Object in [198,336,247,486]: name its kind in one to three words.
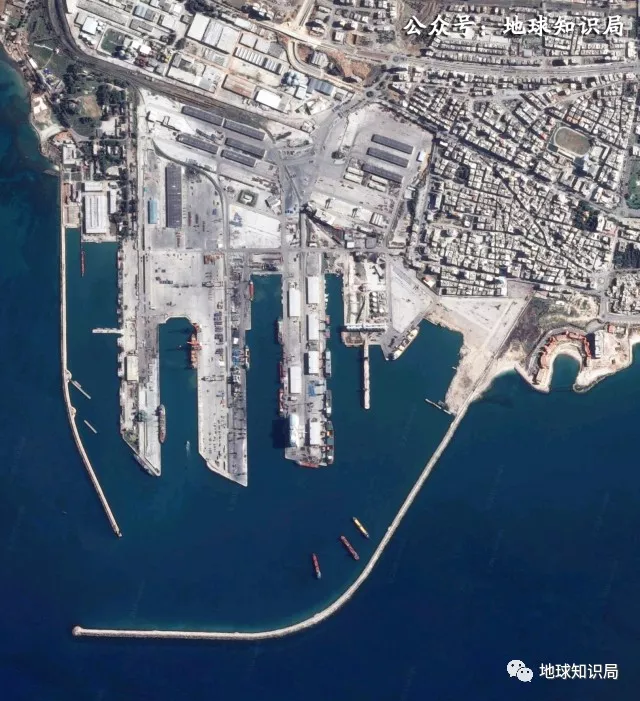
pier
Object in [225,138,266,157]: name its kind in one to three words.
building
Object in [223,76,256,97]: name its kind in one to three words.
building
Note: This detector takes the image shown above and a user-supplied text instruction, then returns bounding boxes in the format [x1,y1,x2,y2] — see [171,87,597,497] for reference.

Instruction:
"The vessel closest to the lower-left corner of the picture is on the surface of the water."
[133,455,157,479]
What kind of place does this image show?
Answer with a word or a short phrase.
port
